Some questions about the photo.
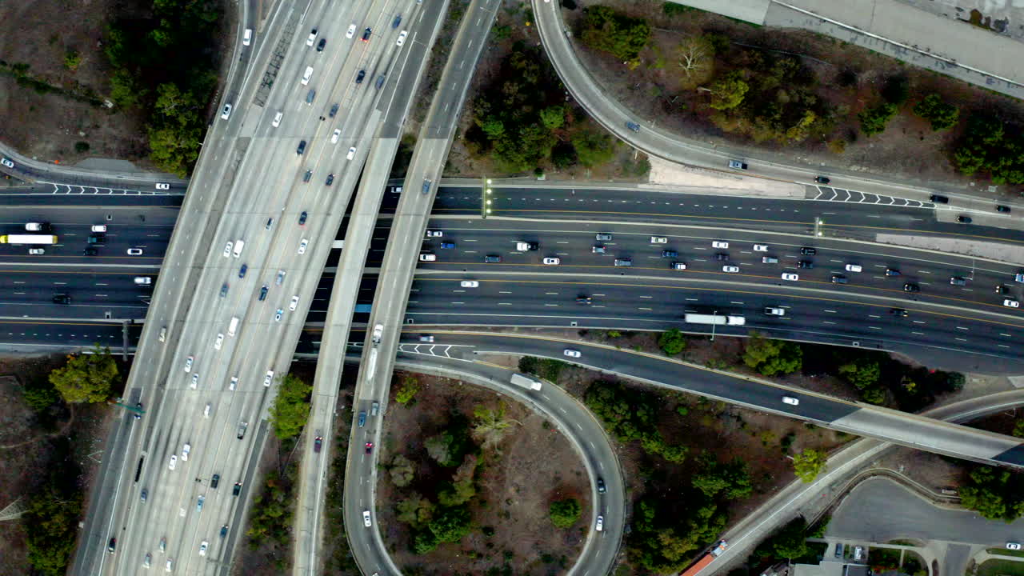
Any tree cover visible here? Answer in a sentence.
Yes, tree cover shows up in the scene.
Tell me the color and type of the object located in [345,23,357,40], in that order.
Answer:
white vehicle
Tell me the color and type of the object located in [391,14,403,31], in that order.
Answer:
blue vehicle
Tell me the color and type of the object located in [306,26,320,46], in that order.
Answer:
white vehicle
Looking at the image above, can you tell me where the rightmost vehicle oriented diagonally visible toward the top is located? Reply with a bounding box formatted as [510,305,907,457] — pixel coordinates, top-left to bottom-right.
[623,119,642,134]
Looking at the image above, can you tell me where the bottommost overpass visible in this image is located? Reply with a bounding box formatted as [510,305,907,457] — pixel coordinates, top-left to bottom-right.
[846,399,998,460]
